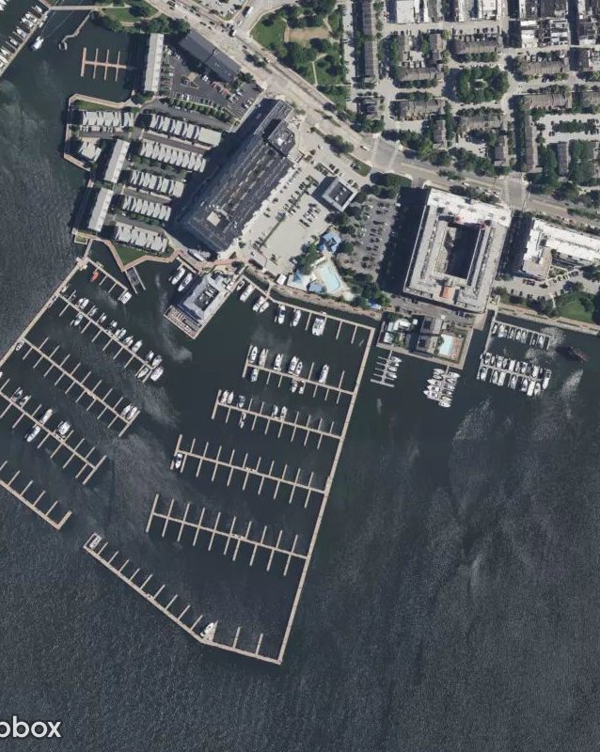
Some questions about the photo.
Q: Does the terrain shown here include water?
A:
Yes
